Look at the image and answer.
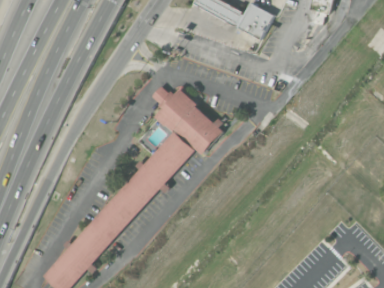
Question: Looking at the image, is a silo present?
No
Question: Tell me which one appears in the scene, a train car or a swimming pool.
swimming pool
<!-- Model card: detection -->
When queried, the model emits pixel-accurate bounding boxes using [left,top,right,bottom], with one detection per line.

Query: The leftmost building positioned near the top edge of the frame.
[194,0,246,26]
